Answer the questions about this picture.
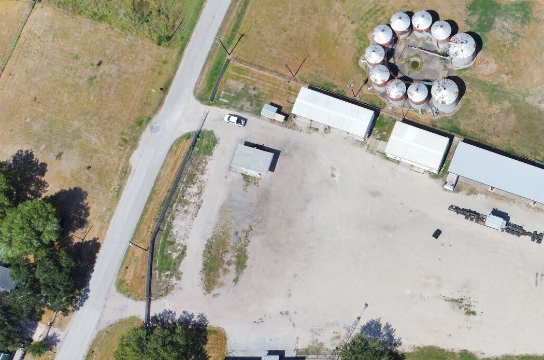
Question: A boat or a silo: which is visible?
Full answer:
The image shows a silo.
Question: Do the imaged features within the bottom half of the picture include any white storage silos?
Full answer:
No, I see no white storage silo within the bottom half of the picture.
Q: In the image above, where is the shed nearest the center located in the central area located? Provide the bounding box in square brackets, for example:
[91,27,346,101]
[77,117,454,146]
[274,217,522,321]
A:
[230,144,275,177]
